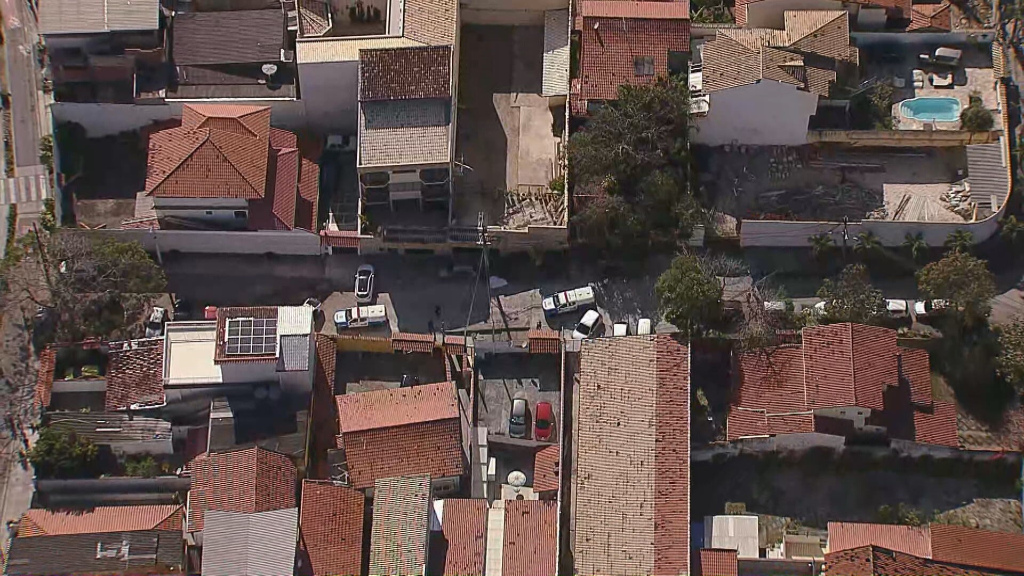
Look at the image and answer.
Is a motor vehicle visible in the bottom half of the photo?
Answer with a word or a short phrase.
Yes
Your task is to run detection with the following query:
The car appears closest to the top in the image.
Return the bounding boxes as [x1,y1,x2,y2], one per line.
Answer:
[321,135,359,155]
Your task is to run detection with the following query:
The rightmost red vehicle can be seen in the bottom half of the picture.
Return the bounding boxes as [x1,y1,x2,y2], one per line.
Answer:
[534,405,554,442]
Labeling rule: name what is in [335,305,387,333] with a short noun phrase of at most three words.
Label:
truck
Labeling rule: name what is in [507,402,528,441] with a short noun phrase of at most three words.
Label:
car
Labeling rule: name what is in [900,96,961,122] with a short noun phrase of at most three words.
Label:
swimming pool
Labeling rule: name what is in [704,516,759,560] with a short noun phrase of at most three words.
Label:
shed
